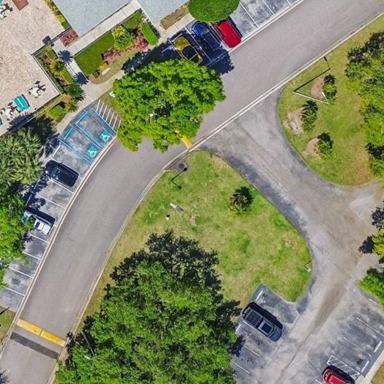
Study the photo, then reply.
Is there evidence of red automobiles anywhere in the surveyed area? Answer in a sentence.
Yes, the frame does contain a red automobile.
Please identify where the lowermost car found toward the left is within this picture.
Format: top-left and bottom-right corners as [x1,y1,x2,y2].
[23,210,58,236]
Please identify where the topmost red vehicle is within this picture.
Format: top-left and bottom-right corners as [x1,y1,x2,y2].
[211,18,242,50]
